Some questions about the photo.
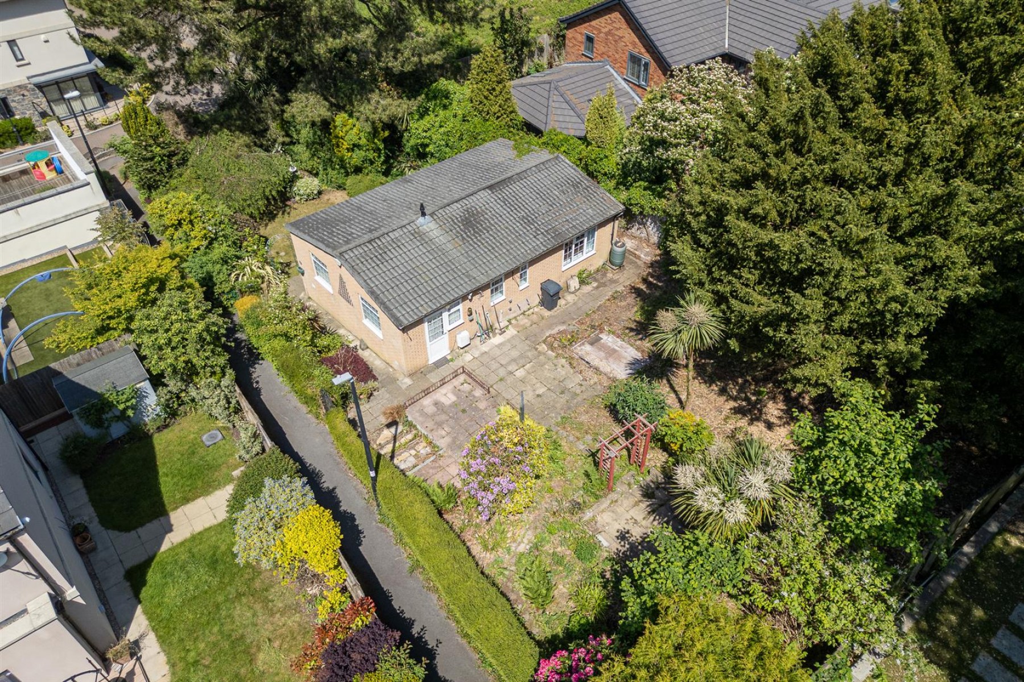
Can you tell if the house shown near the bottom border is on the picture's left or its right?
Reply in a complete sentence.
It is on the left.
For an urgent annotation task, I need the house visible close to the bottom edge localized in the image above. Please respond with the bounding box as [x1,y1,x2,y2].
[0,415,114,682]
